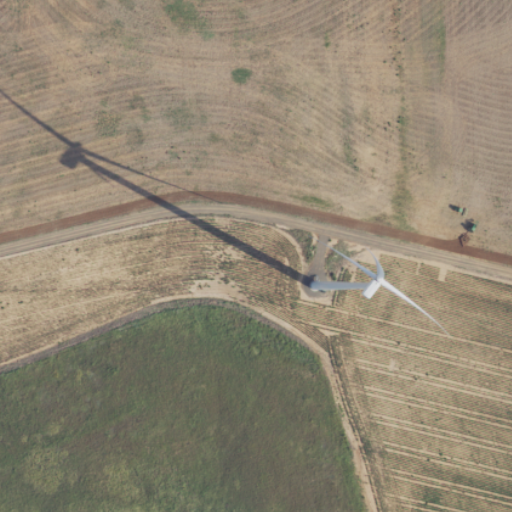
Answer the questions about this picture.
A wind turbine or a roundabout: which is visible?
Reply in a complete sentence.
This aerial view contains a wind turbine.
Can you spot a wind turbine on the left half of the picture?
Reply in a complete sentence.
No, no wind turbine appears on the left half of the picture.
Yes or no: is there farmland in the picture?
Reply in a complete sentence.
Yes, farmland shows up in the scene.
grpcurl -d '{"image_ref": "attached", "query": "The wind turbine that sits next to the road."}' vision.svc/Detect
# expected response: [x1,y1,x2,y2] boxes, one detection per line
[310,244,448,336]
